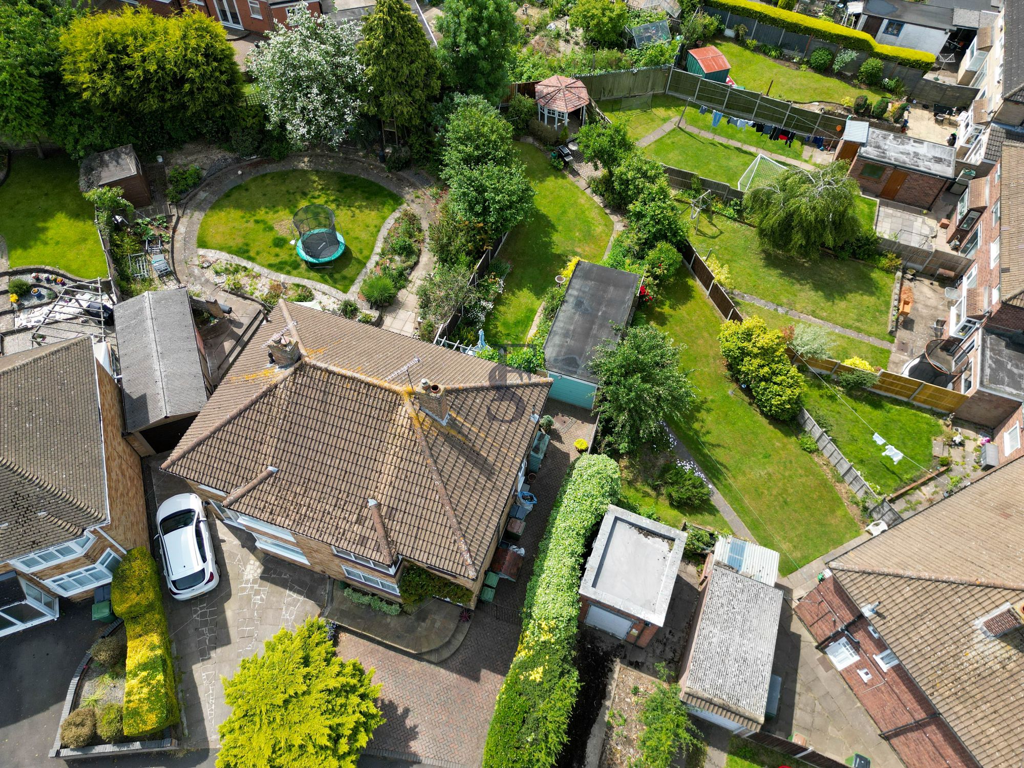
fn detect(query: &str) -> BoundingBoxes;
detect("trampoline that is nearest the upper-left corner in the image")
[288,214,343,277]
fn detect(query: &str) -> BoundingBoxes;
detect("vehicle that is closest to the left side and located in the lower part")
[150,494,225,602]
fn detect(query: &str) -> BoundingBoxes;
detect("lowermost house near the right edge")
[797,443,1024,768]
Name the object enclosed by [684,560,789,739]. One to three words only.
building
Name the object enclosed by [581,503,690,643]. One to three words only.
building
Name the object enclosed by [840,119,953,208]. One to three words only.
shed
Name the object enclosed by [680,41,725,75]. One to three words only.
shed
